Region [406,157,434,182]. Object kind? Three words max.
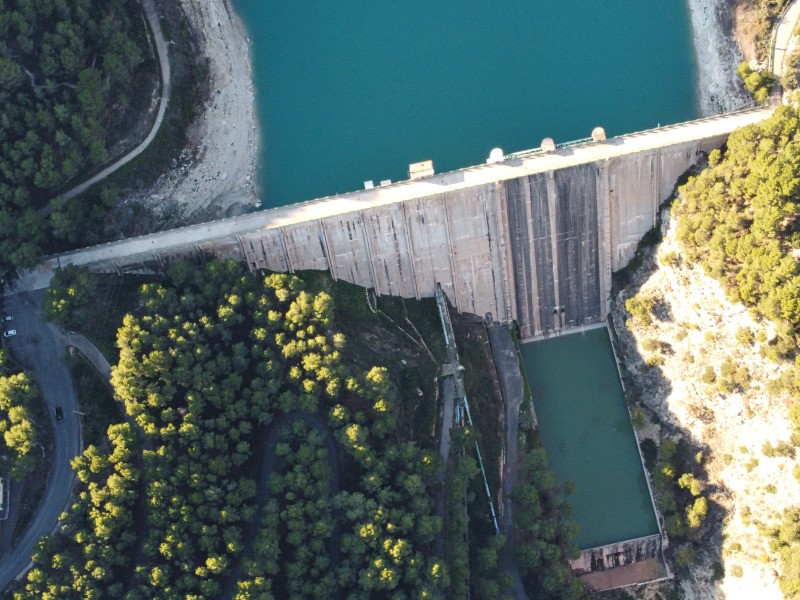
house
